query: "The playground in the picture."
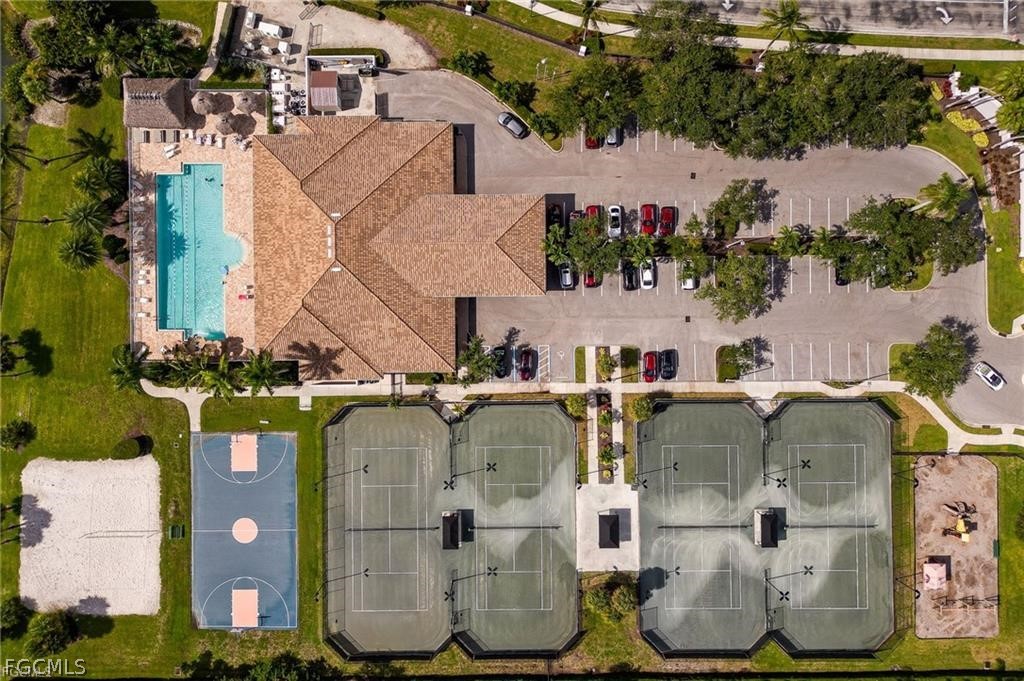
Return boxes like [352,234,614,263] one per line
[915,456,999,640]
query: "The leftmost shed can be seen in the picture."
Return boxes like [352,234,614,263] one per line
[119,75,189,132]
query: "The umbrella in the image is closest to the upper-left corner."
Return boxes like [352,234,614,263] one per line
[188,89,217,117]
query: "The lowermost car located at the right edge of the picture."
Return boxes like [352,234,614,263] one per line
[975,362,1009,391]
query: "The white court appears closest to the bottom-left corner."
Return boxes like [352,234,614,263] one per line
[18,455,160,614]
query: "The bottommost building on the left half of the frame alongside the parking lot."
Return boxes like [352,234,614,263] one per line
[250,115,545,384]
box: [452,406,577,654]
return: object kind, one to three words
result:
tennis court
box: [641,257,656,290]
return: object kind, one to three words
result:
car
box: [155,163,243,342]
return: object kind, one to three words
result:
swimming pool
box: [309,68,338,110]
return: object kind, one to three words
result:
shed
